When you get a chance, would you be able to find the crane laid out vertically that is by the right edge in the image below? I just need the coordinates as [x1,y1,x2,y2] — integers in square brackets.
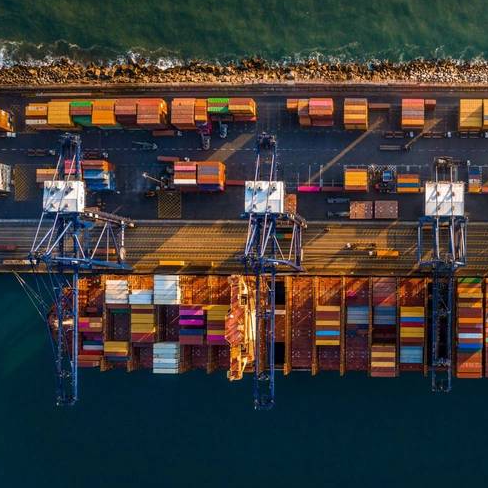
[414,157,471,396]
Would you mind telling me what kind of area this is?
port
